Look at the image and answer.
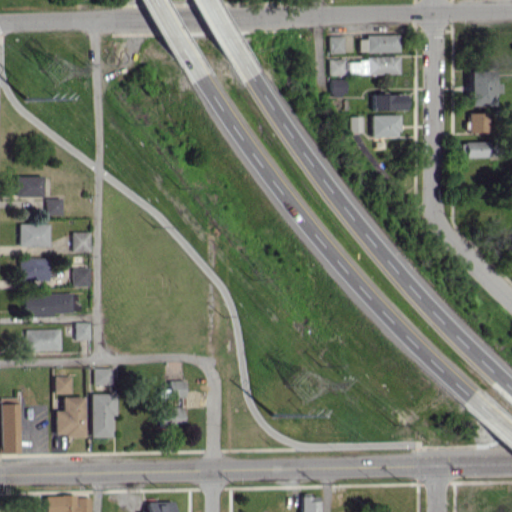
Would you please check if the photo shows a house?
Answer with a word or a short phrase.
Yes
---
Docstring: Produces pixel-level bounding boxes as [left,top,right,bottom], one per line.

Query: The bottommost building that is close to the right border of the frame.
[463,142,494,159]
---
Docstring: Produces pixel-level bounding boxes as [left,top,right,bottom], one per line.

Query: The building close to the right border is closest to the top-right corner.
[470,72,504,109]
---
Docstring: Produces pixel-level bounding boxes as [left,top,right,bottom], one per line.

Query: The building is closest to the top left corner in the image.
[16,176,47,197]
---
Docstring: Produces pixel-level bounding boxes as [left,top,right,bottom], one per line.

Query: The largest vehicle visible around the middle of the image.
[284,200,306,224]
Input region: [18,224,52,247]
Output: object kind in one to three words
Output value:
house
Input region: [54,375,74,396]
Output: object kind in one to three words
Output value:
building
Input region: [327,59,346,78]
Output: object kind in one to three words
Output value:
building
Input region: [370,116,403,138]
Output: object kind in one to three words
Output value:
house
